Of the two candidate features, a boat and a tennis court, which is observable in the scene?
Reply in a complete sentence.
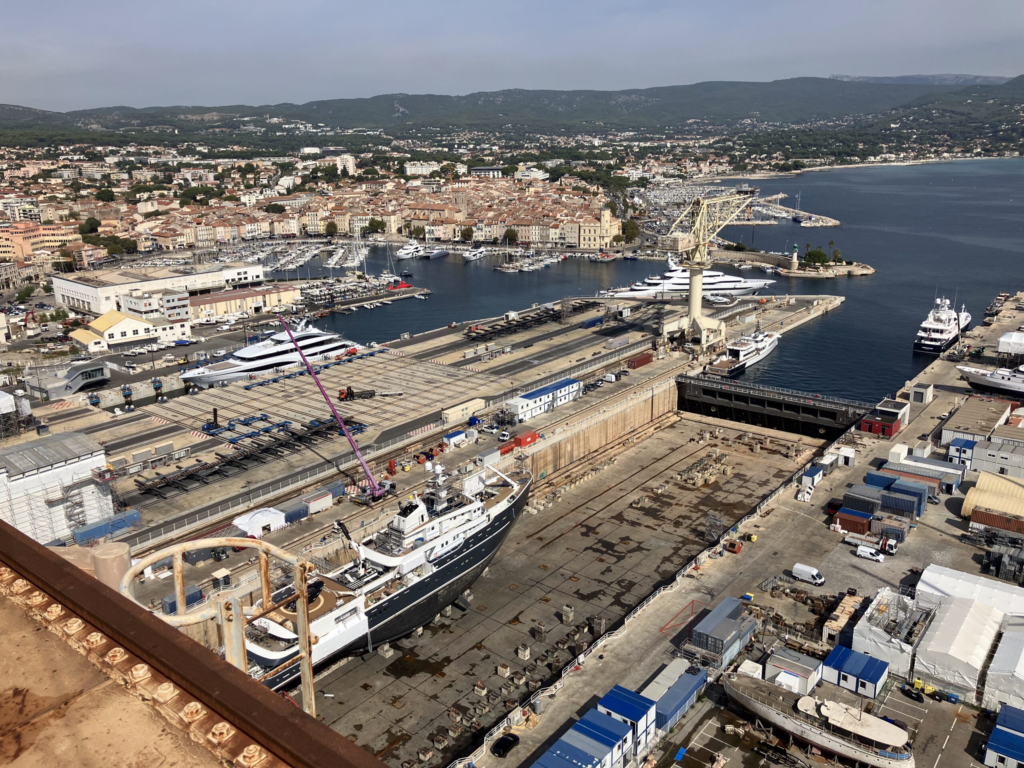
The one in the frame is a boat.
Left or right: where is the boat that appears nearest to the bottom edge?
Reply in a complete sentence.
You can find the boat that appears nearest to the bottom edge on the right side of the picture.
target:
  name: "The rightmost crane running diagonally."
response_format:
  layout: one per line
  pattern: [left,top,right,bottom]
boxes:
[277,314,404,510]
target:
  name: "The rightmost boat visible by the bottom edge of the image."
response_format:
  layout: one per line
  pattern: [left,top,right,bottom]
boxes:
[718,676,923,768]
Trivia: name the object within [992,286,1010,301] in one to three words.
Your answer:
vessel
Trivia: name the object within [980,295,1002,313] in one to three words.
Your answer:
vessel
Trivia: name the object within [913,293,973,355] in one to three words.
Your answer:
boat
